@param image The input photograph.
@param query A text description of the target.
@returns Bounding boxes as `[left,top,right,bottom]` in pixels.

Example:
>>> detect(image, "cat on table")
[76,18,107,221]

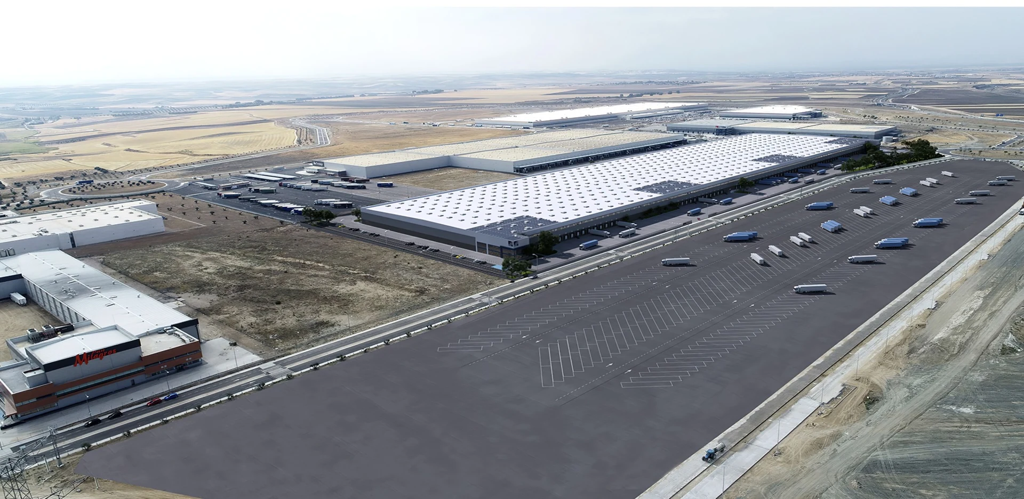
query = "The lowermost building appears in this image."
[0,250,202,432]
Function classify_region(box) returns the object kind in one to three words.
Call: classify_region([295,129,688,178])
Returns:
building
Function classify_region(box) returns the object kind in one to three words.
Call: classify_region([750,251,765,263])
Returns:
vehicle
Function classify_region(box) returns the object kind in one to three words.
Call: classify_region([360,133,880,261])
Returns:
warehouse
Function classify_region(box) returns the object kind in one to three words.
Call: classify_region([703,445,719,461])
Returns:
work vehicle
